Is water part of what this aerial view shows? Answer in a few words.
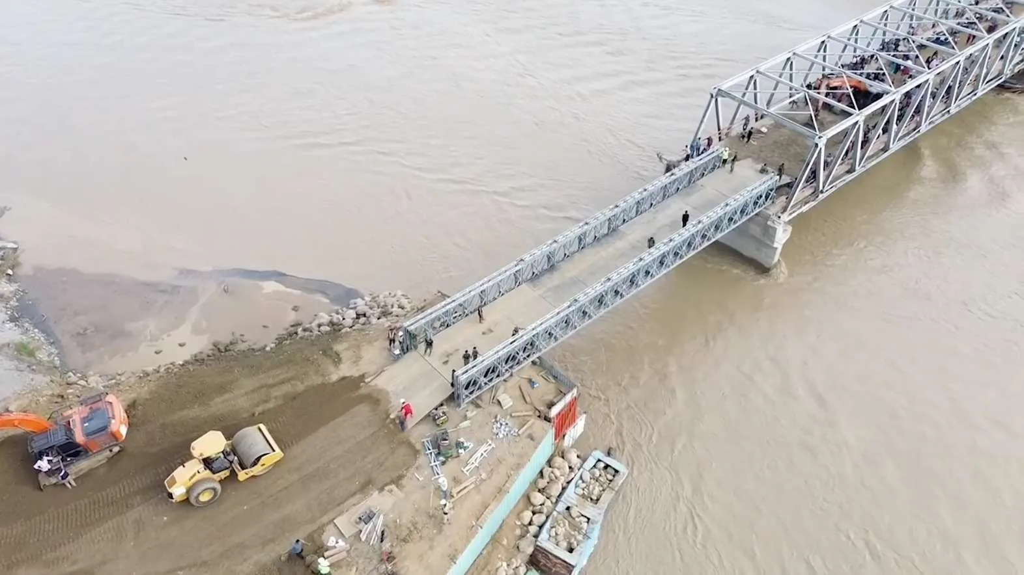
Yes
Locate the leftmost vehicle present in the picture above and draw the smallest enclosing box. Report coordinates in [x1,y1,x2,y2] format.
[0,389,131,488]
